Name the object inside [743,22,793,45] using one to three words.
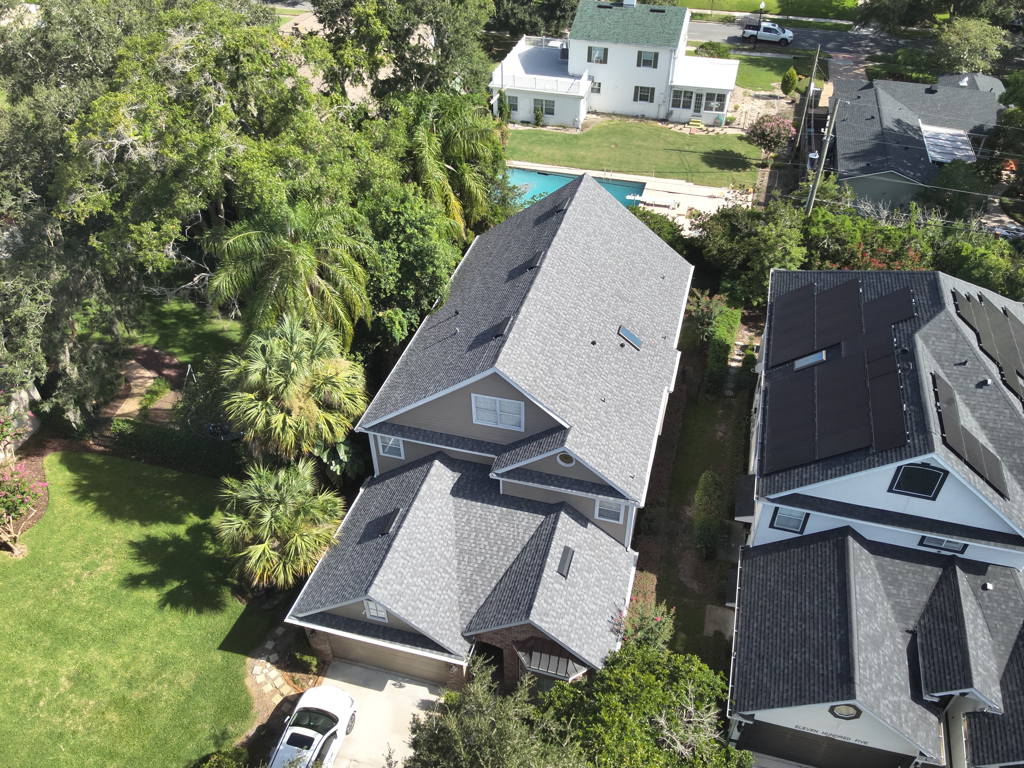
truck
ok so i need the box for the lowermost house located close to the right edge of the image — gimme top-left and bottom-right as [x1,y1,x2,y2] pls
[723,261,1024,768]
